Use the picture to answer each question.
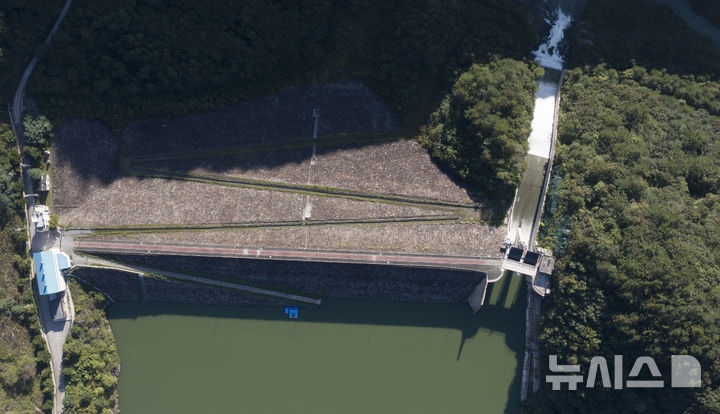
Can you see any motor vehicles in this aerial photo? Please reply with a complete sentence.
No, the picture doesn't show any motor vehicle.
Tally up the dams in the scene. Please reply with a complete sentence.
The picture shows 1 dam.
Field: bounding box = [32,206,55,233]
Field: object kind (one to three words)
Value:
building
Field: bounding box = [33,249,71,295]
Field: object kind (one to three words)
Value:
building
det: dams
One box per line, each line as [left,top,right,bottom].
[53,84,507,312]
